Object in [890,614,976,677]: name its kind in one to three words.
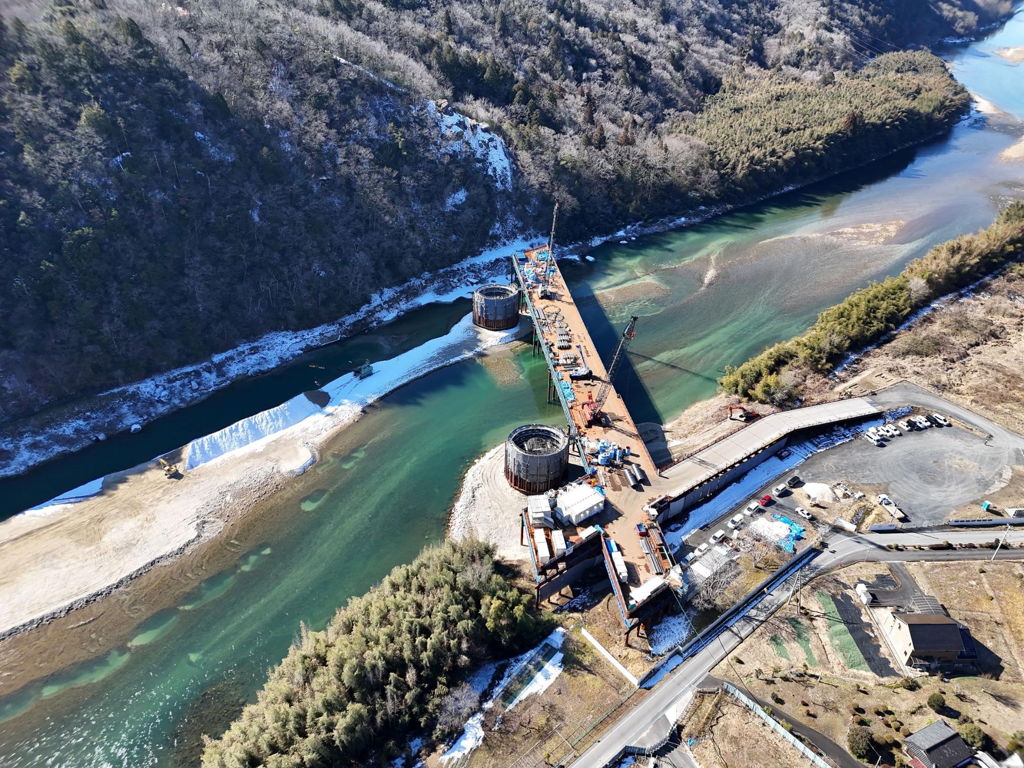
house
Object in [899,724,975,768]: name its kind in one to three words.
house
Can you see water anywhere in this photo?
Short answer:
Yes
